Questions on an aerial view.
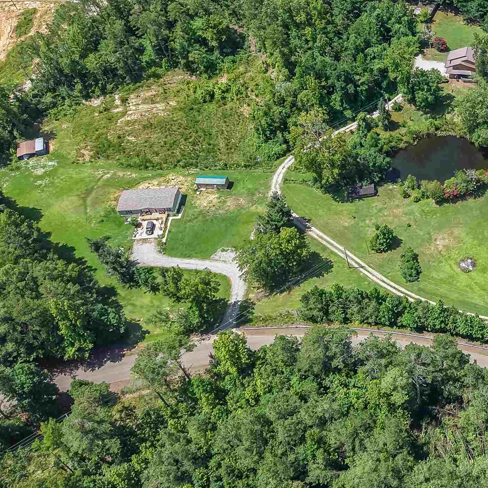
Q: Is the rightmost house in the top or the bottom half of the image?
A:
top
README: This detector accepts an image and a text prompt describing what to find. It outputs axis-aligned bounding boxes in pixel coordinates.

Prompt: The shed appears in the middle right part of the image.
[349,184,376,200]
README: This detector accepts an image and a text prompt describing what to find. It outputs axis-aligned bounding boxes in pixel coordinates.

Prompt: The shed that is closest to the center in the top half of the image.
[195,175,230,193]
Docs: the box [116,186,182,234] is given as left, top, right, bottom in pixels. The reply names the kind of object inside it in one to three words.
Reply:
house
